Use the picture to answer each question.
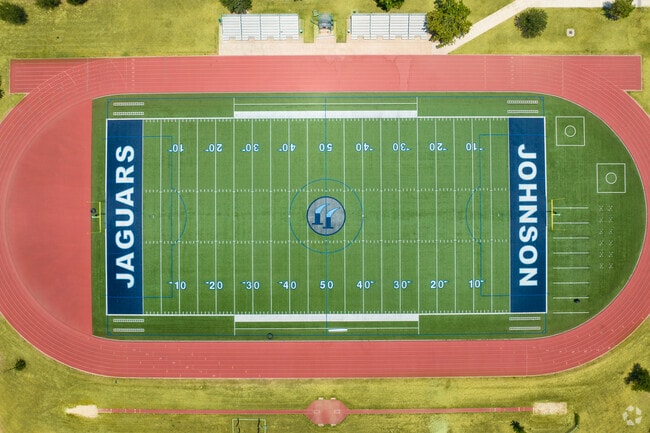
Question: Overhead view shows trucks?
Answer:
No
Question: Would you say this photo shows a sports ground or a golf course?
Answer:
sports ground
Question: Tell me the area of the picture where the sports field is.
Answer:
center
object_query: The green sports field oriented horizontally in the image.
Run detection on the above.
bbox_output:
[93,92,646,340]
